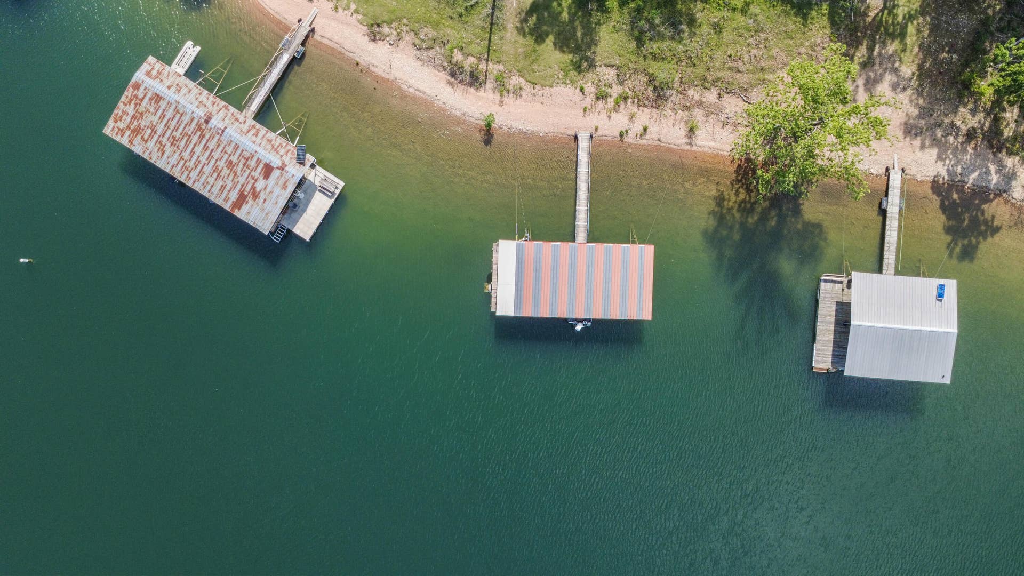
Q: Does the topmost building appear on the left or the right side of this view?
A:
left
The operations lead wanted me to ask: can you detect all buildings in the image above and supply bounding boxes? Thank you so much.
[811,272,960,383]
[103,56,345,242]
[486,225,655,321]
